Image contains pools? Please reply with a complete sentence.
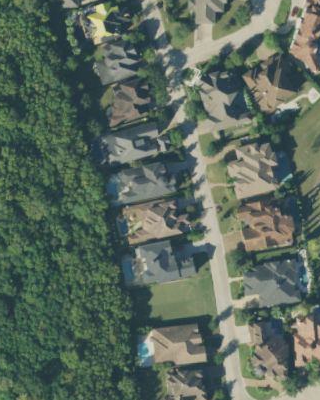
Yes, a pool can be made out from above.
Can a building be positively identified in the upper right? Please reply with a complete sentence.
Yes, a building is visible in the upper right.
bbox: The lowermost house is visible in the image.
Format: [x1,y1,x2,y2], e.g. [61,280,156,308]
[160,368,206,400]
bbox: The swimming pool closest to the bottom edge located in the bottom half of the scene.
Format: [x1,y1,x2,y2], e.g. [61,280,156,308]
[138,332,154,366]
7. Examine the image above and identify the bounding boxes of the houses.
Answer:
[290,0,320,71]
[105,80,152,127]
[290,316,320,368]
[87,2,126,45]
[188,0,228,24]
[151,324,207,366]
[243,259,302,308]
[248,322,294,381]
[242,58,301,113]
[228,143,278,200]
[118,162,178,202]
[123,200,192,244]
[200,70,253,130]
[237,202,296,251]
[160,368,206,400]
[102,123,173,162]
[96,40,138,86]
[138,241,200,286]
